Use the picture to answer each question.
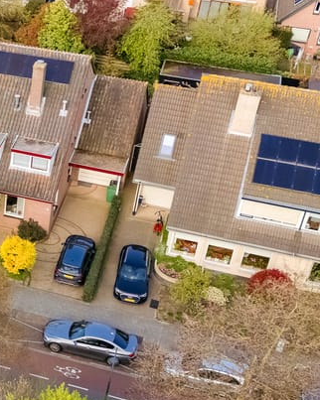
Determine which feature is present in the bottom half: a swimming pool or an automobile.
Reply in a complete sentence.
Looking in the bottom half, you will find an automobile.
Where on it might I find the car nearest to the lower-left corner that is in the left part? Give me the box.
[44,316,139,364]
